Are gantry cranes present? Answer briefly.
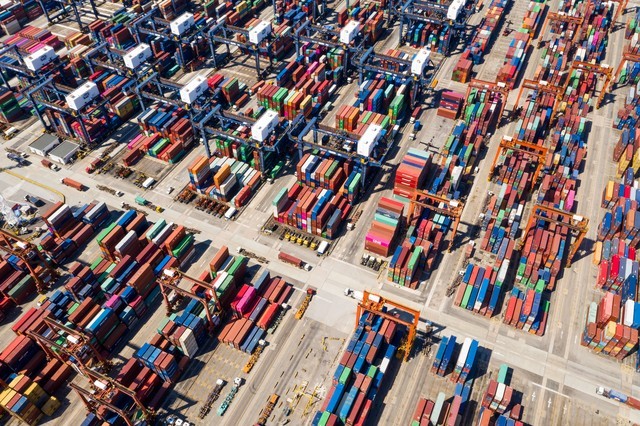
Yes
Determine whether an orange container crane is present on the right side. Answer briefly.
Yes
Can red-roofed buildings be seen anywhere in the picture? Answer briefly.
No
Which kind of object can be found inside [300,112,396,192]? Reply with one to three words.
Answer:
container crane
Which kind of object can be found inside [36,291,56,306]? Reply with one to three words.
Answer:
vehicle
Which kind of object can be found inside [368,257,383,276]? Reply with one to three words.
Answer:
vehicle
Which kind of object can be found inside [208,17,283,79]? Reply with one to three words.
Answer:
container crane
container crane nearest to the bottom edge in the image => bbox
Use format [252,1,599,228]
[66,364,153,426]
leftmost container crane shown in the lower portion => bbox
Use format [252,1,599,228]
[0,229,58,292]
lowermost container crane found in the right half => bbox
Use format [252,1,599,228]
[352,287,421,359]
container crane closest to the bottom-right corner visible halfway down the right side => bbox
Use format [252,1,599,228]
[519,202,589,265]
